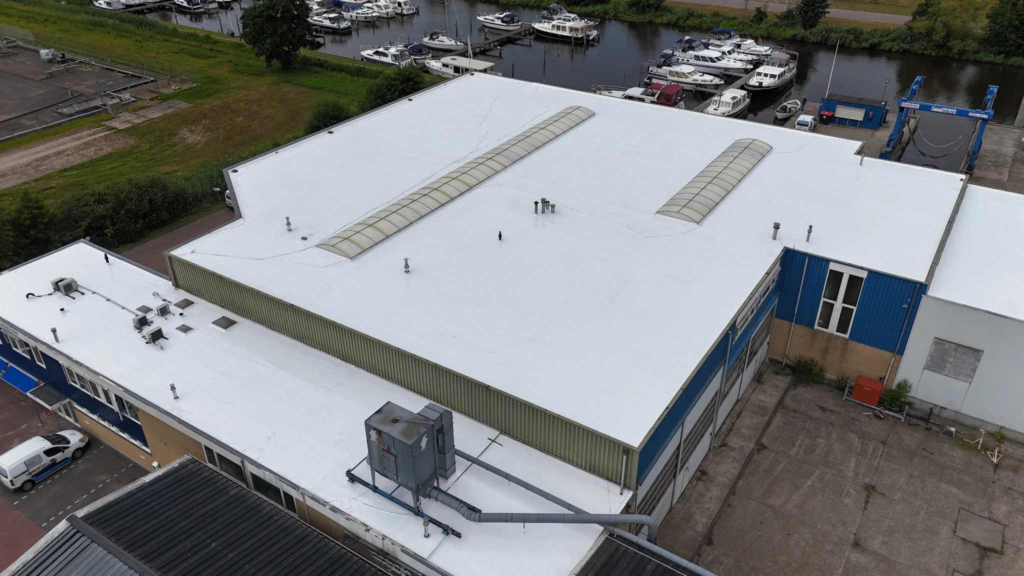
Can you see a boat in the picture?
Yes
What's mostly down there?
buildings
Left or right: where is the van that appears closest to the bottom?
left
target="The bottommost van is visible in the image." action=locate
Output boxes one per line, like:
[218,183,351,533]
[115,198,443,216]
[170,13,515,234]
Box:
[0,429,88,495]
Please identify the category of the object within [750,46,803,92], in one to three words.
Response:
boat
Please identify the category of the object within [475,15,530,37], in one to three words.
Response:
boat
